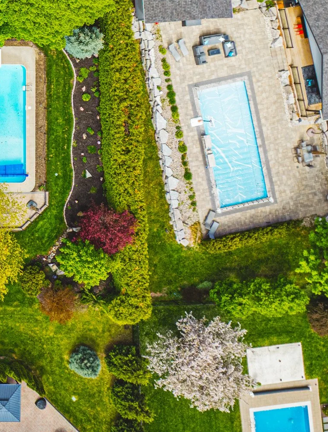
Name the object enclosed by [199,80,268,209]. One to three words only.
swimming pool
